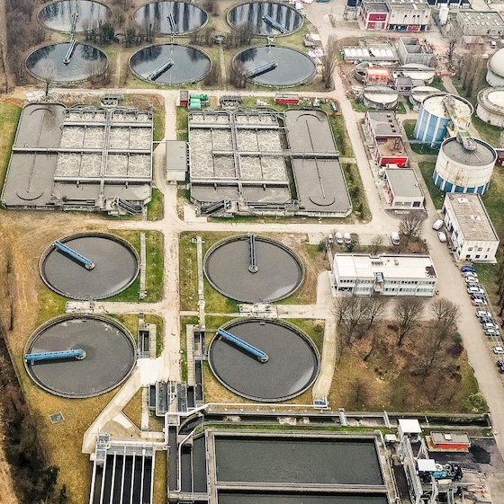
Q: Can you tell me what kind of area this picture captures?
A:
industrial area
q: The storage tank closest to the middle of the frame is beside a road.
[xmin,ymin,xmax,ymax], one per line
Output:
[203,228,305,307]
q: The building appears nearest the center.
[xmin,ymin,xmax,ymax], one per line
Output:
[200,198,303,222]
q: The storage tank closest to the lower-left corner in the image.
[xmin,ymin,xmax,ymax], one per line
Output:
[21,313,137,404]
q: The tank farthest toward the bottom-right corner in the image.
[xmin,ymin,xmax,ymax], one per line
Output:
[207,317,321,408]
